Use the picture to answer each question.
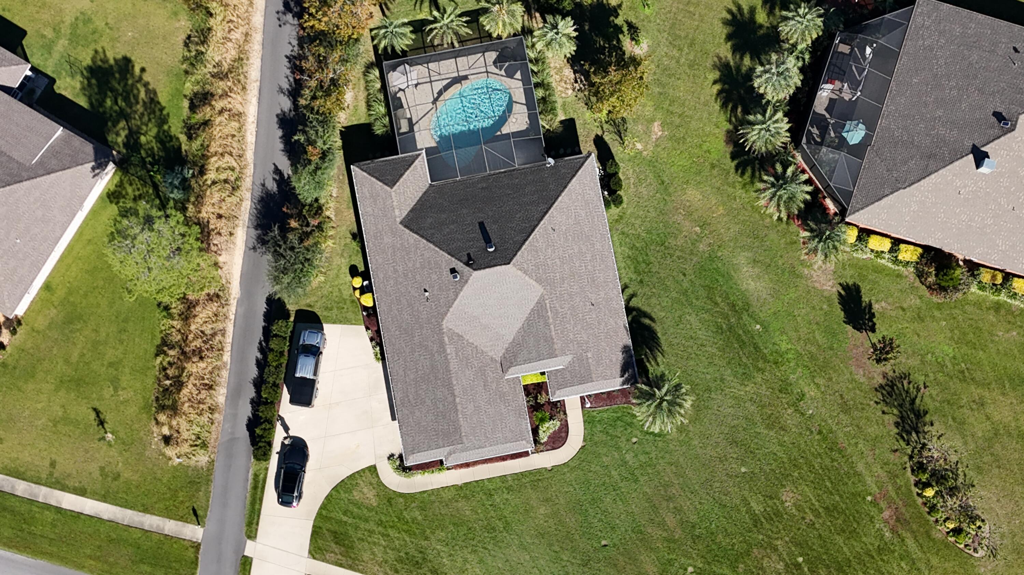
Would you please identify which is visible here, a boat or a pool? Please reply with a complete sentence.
I can see a pool in this picture.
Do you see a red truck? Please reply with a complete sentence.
No, the frame has no red truck in it.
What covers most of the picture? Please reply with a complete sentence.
The bulk of the photo consists of grass.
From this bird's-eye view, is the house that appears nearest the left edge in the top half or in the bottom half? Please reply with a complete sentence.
Seen from above, the house that appears nearest the left edge lies in the top half of the view.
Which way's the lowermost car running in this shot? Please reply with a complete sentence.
From this overhead view, the lowermost car appears to run from top to bottom.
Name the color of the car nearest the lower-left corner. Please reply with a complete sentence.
The car nearest the lower-left corner looks black in the image.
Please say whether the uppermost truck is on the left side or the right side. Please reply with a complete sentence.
The uppermost truck sits on the left side.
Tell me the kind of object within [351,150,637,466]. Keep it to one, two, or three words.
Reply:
house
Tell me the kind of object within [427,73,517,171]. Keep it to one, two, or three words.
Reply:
swimming pool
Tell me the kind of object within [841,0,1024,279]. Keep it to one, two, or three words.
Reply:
house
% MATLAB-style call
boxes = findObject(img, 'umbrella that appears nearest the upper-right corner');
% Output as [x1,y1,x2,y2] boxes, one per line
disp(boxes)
[840,116,869,146]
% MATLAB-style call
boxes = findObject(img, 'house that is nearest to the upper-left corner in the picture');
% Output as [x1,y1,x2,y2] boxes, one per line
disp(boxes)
[0,29,127,324]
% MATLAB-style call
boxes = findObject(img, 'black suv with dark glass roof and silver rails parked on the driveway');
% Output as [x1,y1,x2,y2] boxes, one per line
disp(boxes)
[277,444,310,509]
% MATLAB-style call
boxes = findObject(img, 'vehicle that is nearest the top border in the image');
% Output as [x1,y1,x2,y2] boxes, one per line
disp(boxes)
[289,325,329,410]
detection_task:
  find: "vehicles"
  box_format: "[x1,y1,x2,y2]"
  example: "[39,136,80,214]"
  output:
[289,325,329,410]
[277,444,310,509]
